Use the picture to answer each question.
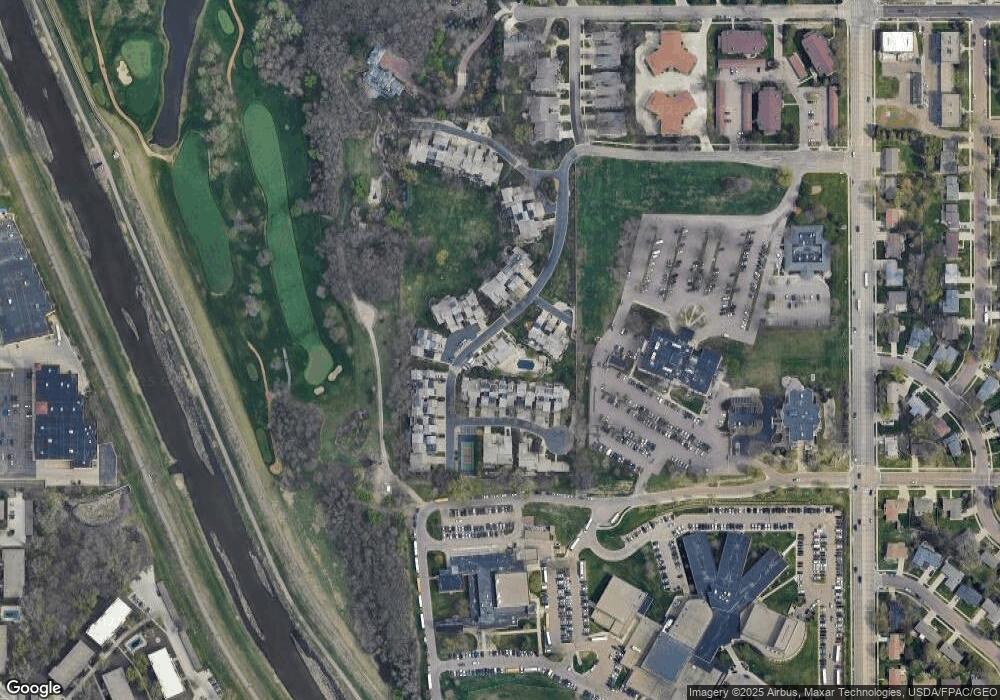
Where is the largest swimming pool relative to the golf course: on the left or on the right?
on the right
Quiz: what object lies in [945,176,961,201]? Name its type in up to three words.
house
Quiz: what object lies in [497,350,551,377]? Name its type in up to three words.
swimming pool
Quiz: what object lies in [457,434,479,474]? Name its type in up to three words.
tennis court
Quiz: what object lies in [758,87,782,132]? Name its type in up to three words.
building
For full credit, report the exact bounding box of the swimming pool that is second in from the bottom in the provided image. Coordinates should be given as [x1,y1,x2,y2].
[1,606,21,621]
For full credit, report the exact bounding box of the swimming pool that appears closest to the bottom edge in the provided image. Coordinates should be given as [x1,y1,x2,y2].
[125,635,146,653]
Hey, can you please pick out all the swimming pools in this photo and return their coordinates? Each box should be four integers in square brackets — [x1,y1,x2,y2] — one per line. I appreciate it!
[1,606,21,621]
[125,635,146,653]
[497,350,551,377]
